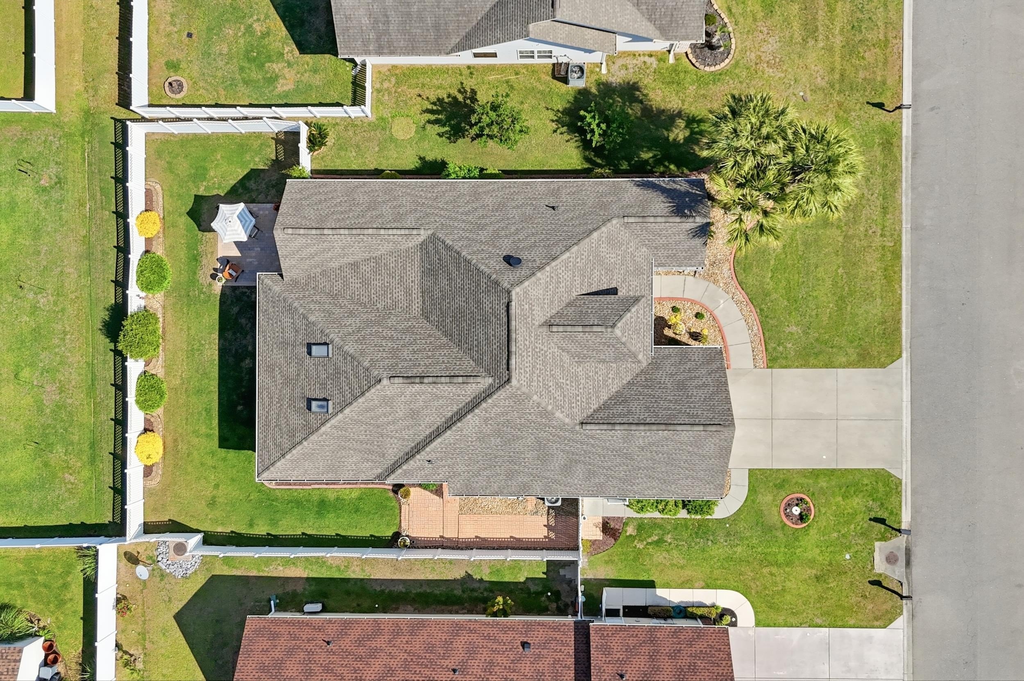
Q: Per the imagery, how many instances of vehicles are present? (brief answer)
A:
0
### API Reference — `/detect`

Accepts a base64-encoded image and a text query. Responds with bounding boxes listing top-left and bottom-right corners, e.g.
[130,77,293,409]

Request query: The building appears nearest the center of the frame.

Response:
[254,177,738,501]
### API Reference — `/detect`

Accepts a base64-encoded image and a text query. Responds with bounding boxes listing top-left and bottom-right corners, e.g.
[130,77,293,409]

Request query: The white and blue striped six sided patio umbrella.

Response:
[211,202,257,244]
